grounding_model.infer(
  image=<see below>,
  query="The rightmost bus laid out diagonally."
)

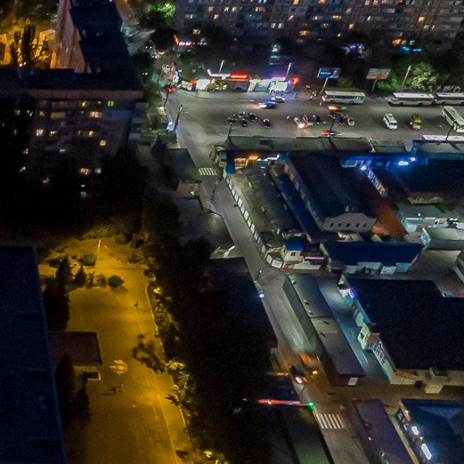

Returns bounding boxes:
[436,102,464,128]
